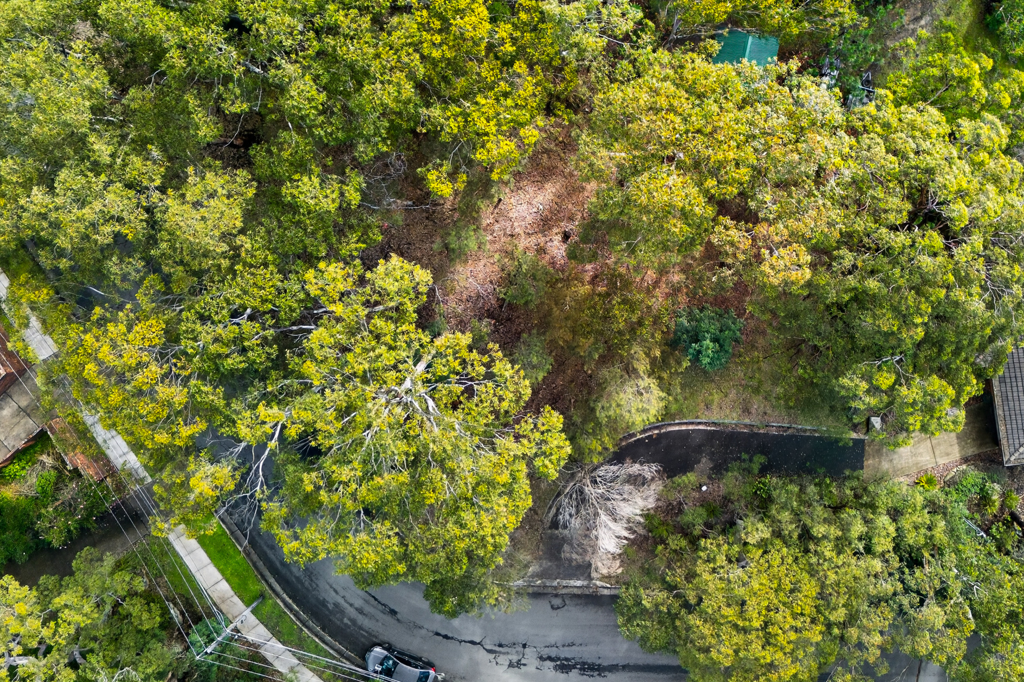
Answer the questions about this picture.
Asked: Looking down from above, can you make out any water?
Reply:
No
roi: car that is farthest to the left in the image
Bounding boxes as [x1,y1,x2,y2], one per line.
[367,646,434,682]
